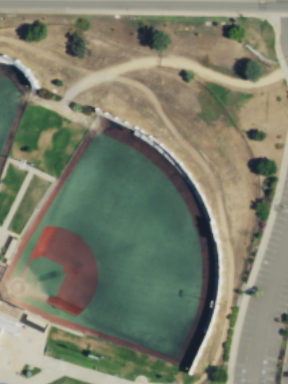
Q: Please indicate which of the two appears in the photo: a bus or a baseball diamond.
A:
baseball diamond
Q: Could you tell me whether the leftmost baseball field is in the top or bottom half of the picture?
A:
top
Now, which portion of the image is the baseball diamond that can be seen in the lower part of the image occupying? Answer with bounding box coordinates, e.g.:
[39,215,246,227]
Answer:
[1,110,218,374]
